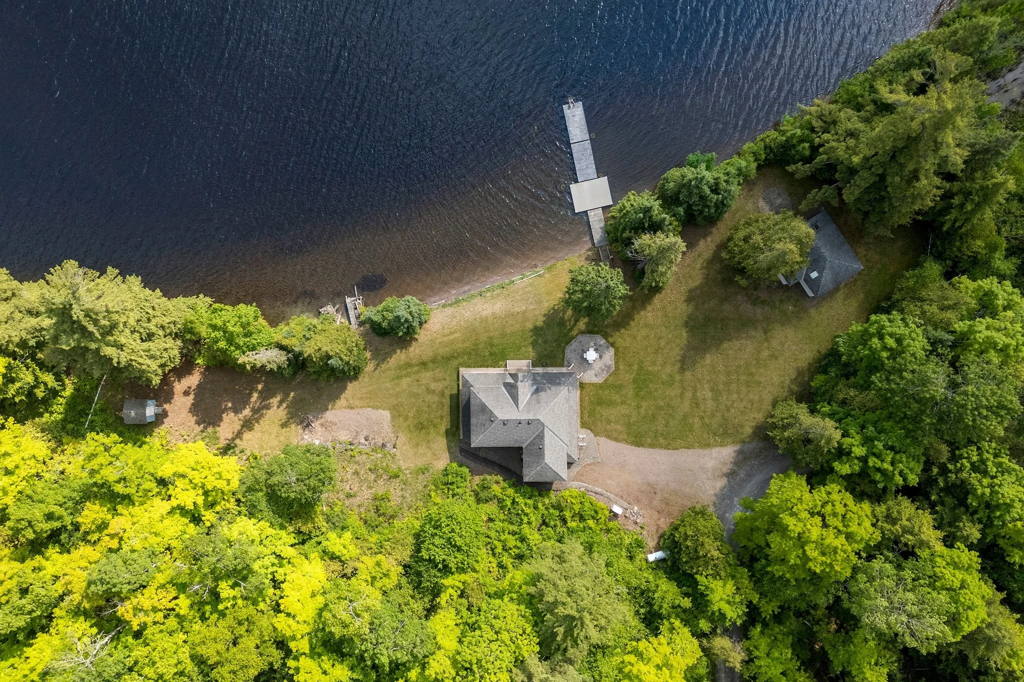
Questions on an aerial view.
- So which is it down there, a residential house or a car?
residential house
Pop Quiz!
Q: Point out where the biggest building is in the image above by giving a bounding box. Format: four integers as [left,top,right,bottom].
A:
[459,360,588,483]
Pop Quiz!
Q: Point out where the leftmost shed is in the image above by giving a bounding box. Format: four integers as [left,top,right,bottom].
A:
[118,399,164,424]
